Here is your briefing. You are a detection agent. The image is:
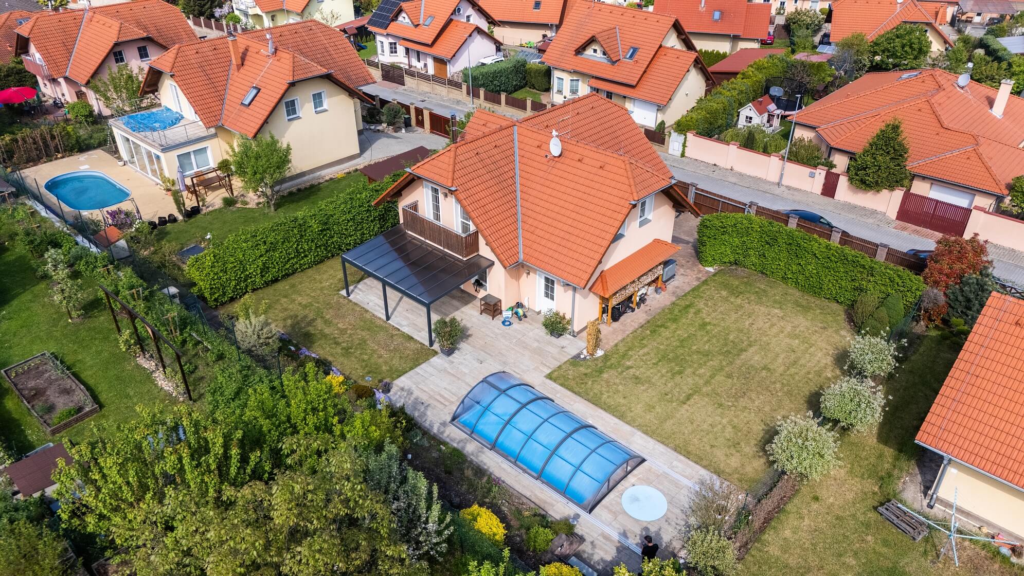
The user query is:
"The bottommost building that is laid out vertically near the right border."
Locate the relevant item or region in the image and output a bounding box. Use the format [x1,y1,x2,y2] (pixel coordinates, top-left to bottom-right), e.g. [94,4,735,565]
[912,288,1024,544]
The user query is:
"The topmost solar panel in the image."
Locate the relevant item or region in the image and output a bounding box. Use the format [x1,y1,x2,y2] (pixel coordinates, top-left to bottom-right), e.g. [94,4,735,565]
[355,0,399,25]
